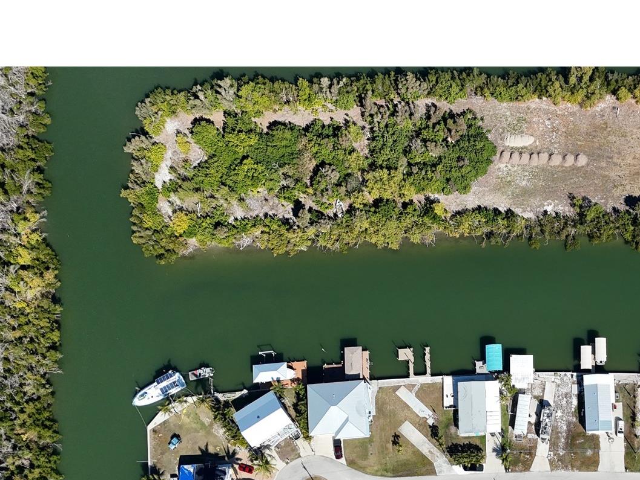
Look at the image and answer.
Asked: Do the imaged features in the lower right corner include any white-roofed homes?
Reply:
Yes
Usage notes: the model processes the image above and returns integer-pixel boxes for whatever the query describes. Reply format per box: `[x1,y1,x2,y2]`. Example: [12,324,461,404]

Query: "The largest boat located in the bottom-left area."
[128,371,185,404]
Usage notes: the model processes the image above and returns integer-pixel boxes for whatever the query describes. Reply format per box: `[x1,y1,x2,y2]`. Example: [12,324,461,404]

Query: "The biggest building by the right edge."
[583,374,615,433]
